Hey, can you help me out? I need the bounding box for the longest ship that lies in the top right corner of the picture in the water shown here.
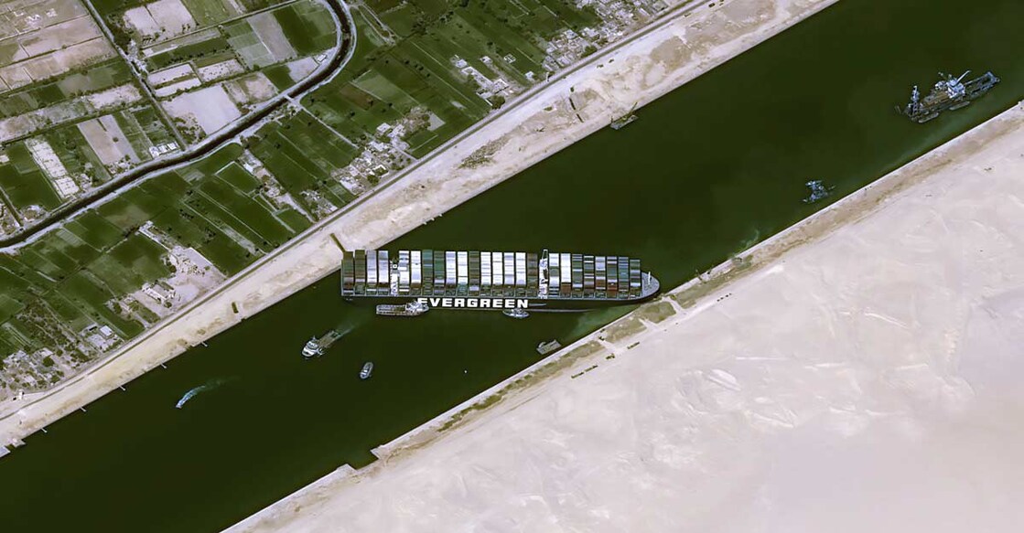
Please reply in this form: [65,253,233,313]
[906,68,1000,118]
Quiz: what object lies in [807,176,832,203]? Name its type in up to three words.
ship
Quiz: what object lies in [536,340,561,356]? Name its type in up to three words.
ship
